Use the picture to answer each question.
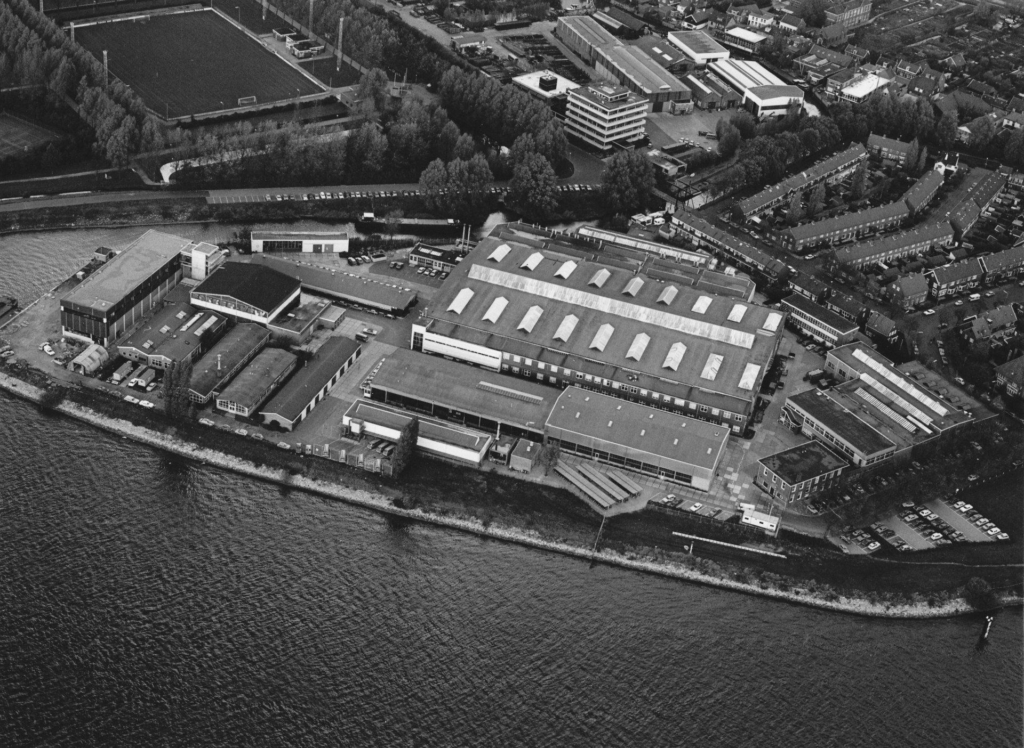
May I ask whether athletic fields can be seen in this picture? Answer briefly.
Yes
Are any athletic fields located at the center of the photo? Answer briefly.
No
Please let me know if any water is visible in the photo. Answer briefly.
Yes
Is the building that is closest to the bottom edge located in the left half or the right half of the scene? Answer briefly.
right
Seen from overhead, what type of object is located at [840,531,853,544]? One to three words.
vehicle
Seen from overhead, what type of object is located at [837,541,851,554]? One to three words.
vehicle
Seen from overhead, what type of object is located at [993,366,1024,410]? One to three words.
house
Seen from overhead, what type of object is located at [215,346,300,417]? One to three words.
building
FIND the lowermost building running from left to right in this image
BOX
[741,508,778,532]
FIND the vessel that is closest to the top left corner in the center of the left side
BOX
[0,298,21,321]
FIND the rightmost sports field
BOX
[302,57,361,87]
